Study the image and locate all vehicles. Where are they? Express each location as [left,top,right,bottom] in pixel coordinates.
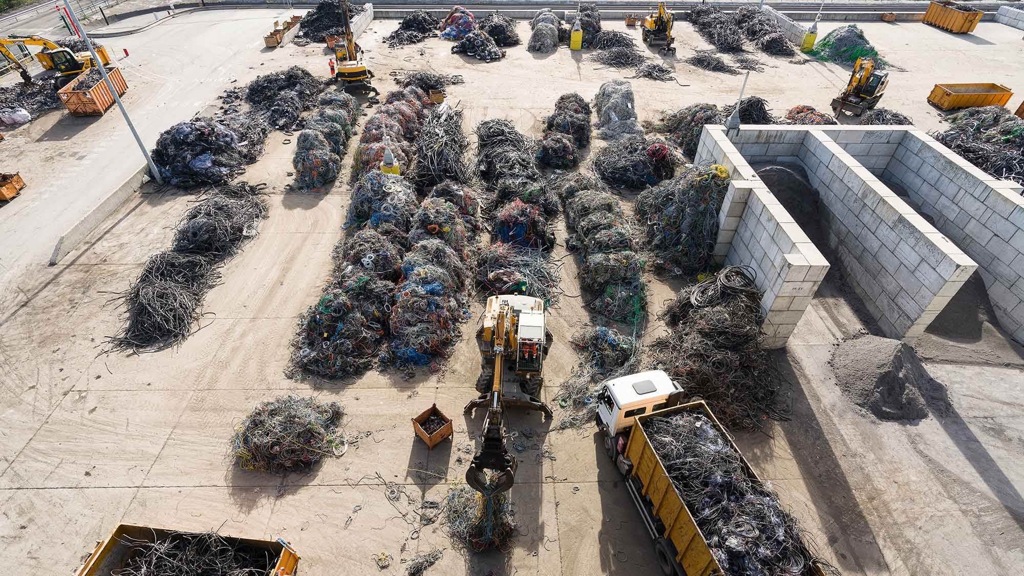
[590,362,840,576]
[838,46,904,116]
[458,293,558,486]
[333,0,379,92]
[0,27,110,83]
[637,0,681,46]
